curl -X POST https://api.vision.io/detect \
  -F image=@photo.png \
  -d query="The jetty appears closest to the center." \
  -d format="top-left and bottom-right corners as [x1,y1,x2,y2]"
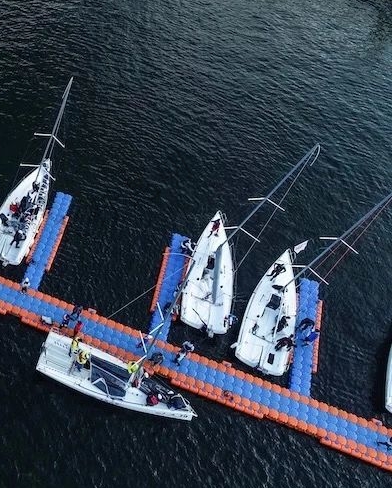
[148,232,188,342]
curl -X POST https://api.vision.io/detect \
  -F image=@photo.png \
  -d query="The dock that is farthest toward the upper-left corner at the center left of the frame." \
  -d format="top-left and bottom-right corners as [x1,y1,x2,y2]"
[24,193,72,294]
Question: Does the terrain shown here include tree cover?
No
